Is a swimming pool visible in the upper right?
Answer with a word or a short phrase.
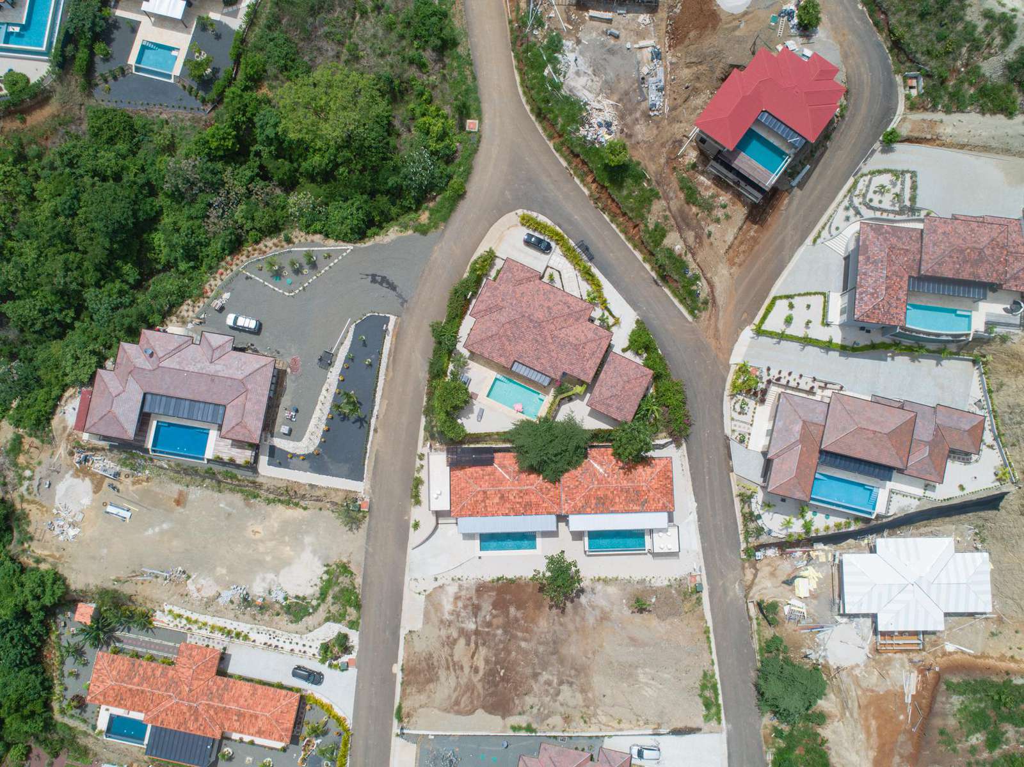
Yes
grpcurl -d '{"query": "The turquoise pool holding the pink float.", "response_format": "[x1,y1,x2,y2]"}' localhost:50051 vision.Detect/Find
[481,368,553,425]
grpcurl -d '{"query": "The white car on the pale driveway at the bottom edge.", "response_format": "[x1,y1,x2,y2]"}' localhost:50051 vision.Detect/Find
[630,746,662,764]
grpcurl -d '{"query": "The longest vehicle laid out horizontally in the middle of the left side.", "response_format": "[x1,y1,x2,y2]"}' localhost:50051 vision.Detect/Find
[225,314,259,333]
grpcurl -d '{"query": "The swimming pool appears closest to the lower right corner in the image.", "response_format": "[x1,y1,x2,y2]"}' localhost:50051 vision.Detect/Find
[803,468,882,517]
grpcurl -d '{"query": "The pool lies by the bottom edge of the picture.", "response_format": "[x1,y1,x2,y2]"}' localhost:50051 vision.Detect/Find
[102,709,152,749]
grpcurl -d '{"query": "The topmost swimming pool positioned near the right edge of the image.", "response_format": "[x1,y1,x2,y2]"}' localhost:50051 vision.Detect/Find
[903,301,974,336]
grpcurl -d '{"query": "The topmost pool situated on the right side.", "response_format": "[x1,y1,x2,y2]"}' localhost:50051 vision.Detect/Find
[733,125,792,177]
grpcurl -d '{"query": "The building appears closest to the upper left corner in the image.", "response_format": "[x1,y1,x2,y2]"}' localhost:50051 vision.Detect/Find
[140,0,190,28]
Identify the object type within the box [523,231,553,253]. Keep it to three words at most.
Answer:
car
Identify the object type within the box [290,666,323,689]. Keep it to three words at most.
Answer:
car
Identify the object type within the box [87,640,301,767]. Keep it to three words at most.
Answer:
house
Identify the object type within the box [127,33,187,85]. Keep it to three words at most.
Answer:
swimming pool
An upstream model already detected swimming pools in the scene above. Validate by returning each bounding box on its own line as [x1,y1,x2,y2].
[481,368,553,425]
[903,301,974,336]
[146,415,215,468]
[127,33,187,85]
[0,0,61,52]
[803,468,882,517]
[584,529,649,557]
[476,531,539,554]
[733,125,792,177]
[102,709,152,749]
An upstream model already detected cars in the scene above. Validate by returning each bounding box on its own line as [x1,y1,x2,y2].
[225,314,259,333]
[630,746,662,764]
[523,231,553,253]
[290,666,323,689]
